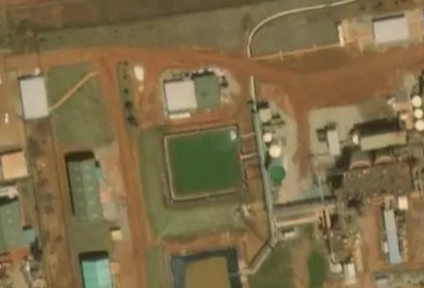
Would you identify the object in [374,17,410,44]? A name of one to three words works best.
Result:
shed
